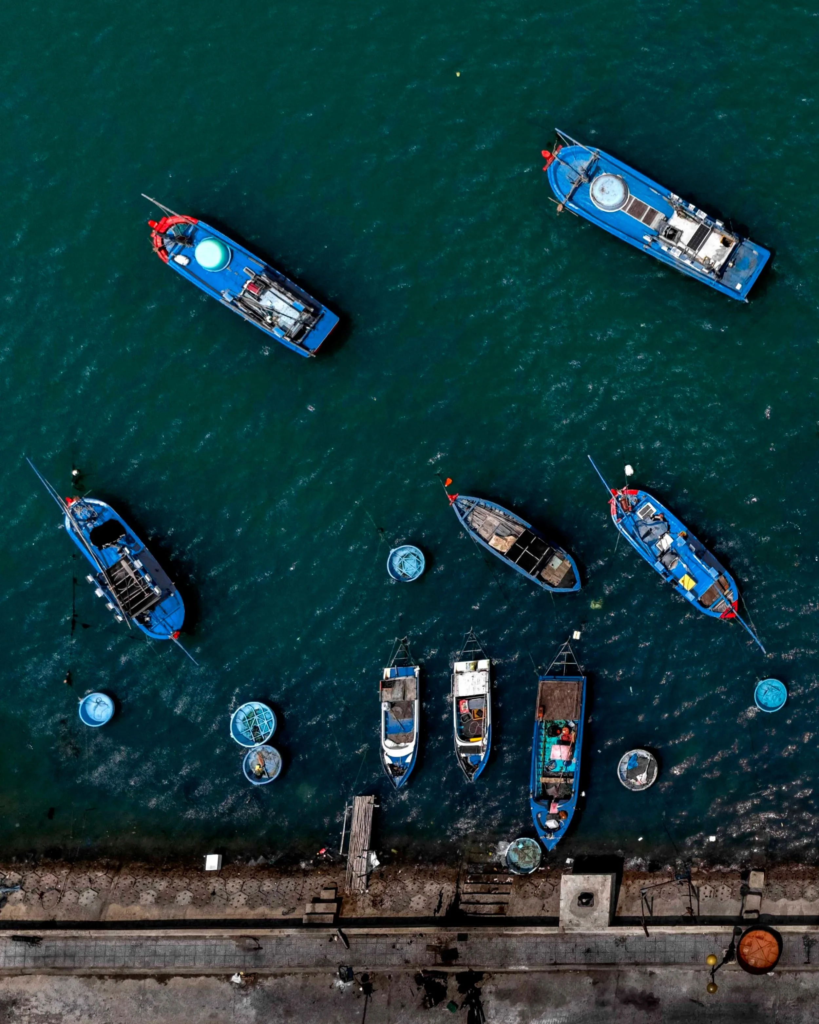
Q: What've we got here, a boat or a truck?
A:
boat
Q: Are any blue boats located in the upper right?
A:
Yes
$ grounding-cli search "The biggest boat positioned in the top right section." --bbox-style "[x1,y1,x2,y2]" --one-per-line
[540,128,770,303]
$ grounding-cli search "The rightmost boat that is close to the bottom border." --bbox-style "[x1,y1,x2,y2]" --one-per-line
[736,927,783,974]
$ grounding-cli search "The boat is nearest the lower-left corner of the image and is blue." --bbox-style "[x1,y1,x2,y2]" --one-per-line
[78,692,115,727]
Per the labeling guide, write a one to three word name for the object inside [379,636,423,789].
boat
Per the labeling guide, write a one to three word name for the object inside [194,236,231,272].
boat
